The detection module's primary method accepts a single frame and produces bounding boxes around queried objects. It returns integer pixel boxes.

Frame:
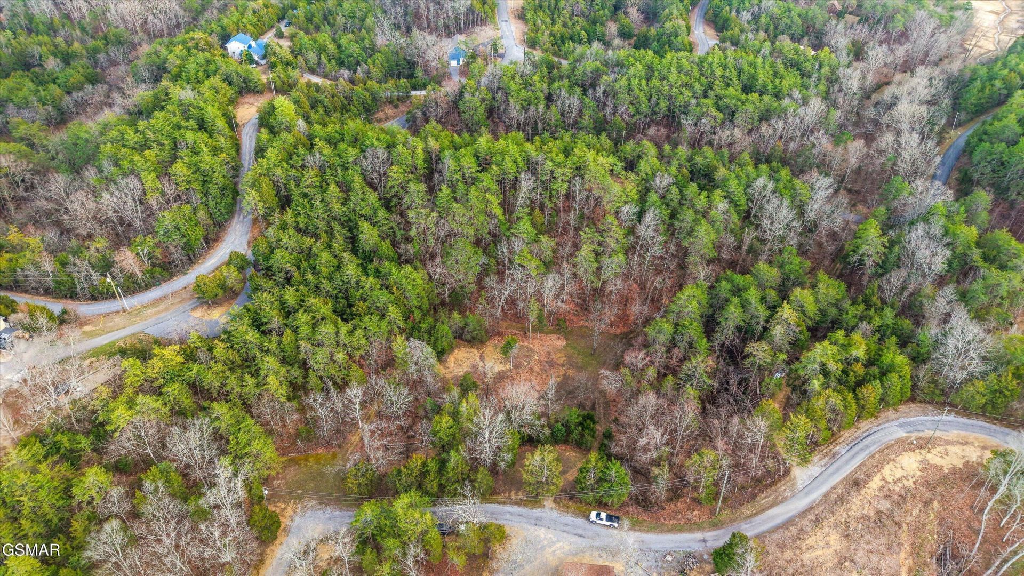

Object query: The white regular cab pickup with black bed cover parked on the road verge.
[587,512,622,530]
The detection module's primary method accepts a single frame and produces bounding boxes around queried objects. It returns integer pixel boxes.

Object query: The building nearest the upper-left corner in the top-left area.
[223,30,278,60]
